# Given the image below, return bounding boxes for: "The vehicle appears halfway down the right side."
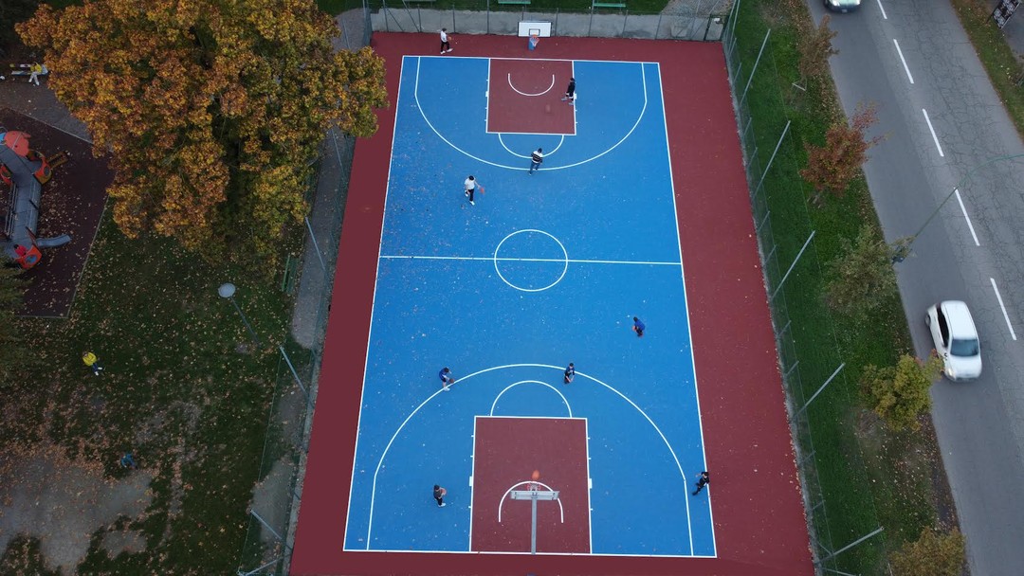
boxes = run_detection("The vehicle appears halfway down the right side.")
[923,297,988,377]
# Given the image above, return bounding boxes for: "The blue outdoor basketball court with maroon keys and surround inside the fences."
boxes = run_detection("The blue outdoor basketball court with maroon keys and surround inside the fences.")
[287,31,822,576]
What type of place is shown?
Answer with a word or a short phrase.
sports ground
